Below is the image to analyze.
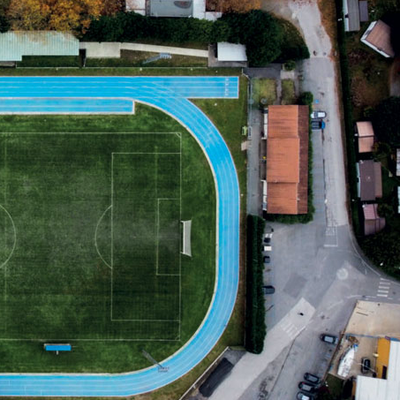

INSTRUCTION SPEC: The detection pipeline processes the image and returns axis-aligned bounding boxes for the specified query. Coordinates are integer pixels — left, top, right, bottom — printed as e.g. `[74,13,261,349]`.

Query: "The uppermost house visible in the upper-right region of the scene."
[343,0,368,31]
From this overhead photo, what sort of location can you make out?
sports ground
